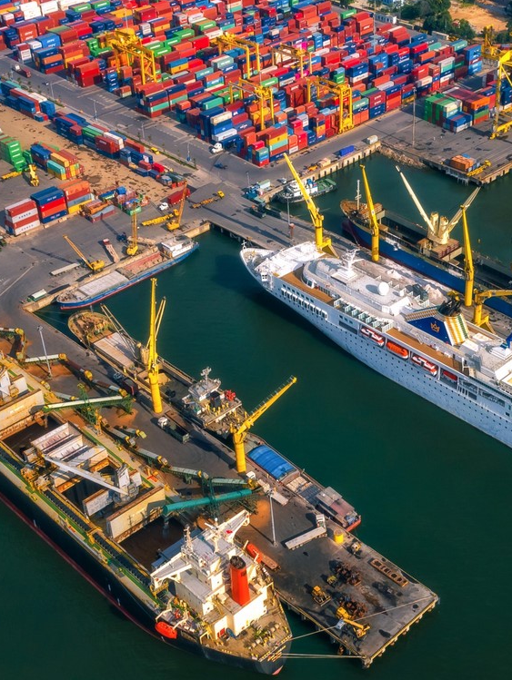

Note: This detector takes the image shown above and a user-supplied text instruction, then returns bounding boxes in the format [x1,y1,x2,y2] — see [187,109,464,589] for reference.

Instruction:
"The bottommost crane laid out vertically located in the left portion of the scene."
[142,278,163,415]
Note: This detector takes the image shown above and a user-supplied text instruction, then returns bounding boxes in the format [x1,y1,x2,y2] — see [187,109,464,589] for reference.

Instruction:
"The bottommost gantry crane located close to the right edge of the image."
[473,270,512,327]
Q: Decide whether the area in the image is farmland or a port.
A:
port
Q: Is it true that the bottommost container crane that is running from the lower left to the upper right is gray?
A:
No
